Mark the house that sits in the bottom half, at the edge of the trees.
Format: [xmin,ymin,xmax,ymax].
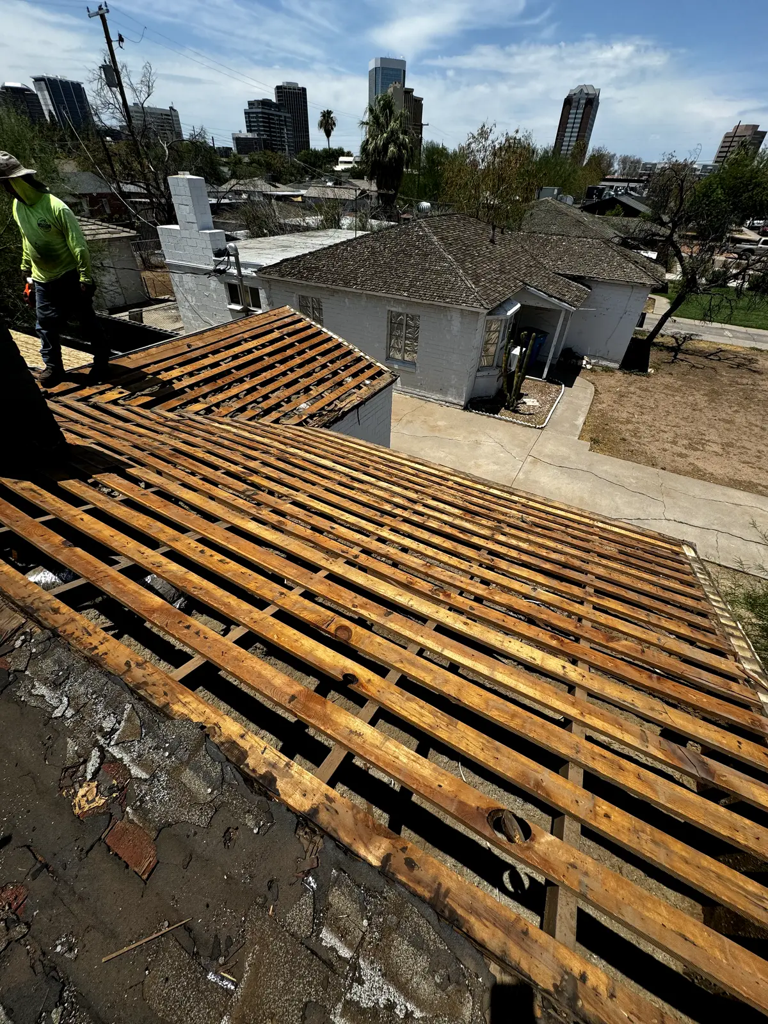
[0,304,768,1024]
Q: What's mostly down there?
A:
buildings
